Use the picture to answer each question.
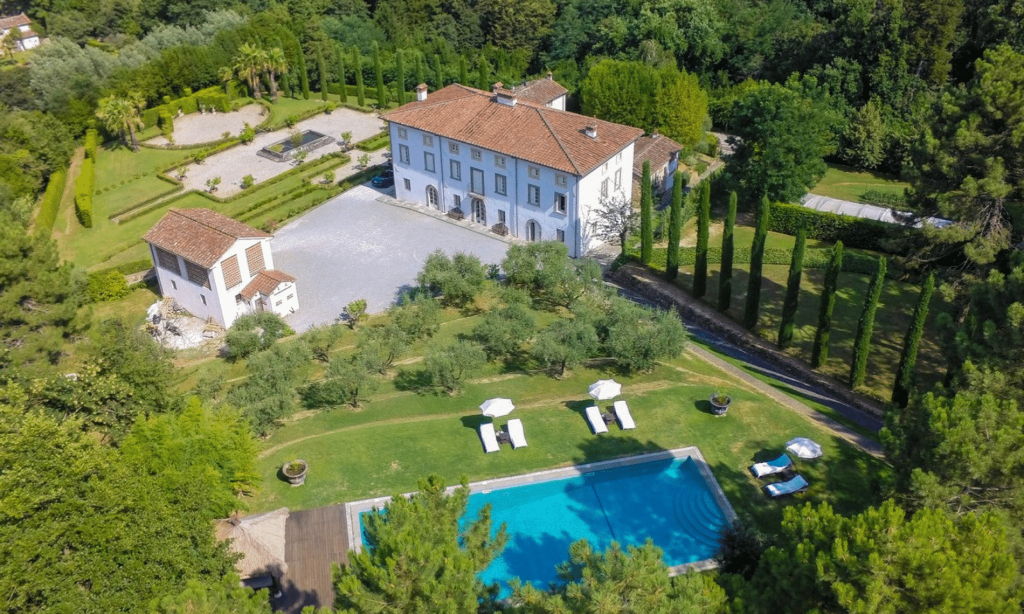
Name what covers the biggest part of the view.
trees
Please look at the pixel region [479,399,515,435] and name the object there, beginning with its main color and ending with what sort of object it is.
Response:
white umbrella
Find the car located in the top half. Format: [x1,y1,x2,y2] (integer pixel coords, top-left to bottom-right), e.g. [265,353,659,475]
[379,168,396,188]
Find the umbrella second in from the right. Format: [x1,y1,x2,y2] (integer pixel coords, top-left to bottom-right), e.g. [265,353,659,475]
[588,382,621,404]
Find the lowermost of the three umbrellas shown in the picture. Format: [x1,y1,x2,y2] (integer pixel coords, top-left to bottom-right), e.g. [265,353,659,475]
[785,439,823,478]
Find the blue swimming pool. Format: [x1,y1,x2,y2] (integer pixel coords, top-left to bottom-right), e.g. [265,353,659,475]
[345,447,755,614]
